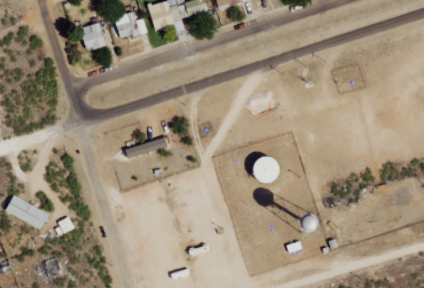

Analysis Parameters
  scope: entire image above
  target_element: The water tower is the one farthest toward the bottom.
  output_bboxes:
[294,212,320,236]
